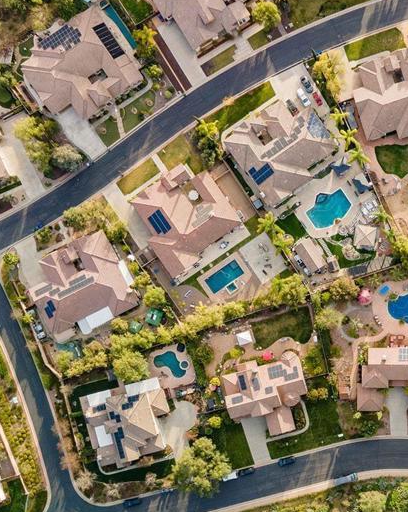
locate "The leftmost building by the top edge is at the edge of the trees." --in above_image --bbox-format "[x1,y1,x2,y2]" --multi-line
[19,6,145,123]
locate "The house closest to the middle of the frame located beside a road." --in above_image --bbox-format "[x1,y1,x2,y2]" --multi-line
[129,164,241,278]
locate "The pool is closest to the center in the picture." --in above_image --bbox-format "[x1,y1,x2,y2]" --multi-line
[204,258,245,294]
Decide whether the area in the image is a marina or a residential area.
residential area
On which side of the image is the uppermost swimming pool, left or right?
left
